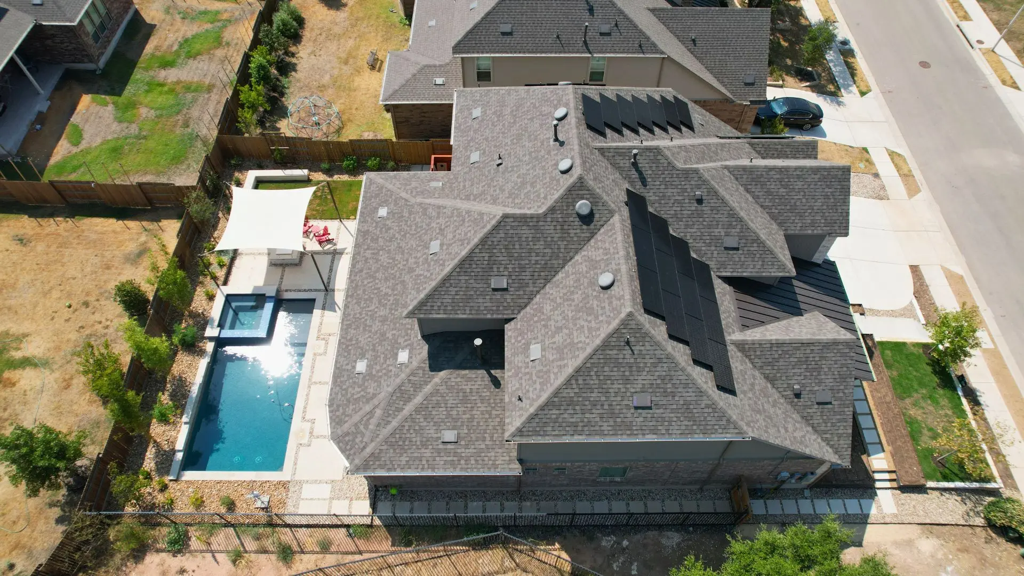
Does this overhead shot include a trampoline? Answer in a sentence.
No, I can't see a single trampoline in this photo.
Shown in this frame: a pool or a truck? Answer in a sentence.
The one in the frame is a pool.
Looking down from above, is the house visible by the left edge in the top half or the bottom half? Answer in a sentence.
It is in the top half that the house visible by the left edge appears.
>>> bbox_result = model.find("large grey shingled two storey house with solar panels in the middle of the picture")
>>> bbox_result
[324,82,879,497]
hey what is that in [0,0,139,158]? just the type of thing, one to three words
house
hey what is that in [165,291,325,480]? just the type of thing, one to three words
swimming pool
